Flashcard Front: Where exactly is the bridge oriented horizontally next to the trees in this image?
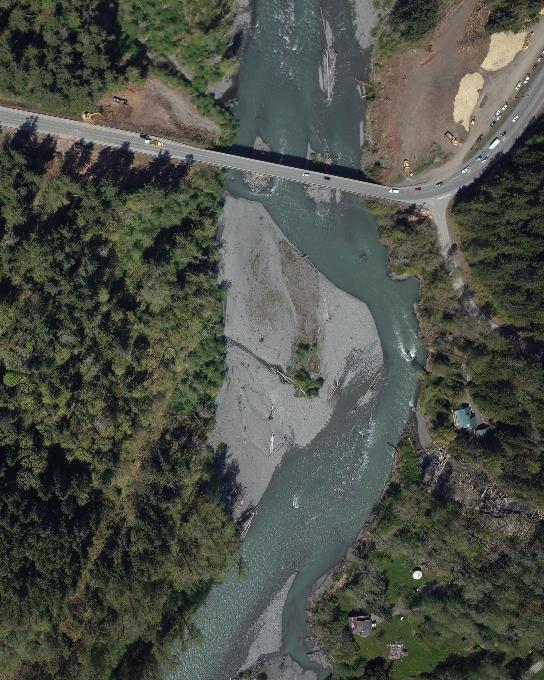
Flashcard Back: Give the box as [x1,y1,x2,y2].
[212,150,384,199]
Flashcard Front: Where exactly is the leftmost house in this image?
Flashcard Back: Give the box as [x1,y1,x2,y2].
[349,610,374,637]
